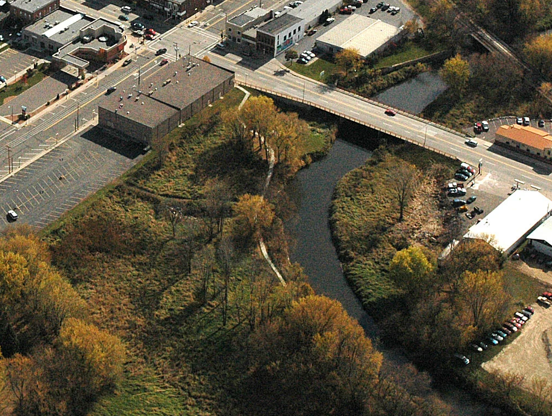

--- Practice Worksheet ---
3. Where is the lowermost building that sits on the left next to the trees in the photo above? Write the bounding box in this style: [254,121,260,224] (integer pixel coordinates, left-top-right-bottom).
[98,54,234,148]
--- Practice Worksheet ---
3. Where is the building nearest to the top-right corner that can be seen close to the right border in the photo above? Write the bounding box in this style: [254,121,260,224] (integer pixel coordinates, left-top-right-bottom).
[497,122,552,165]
